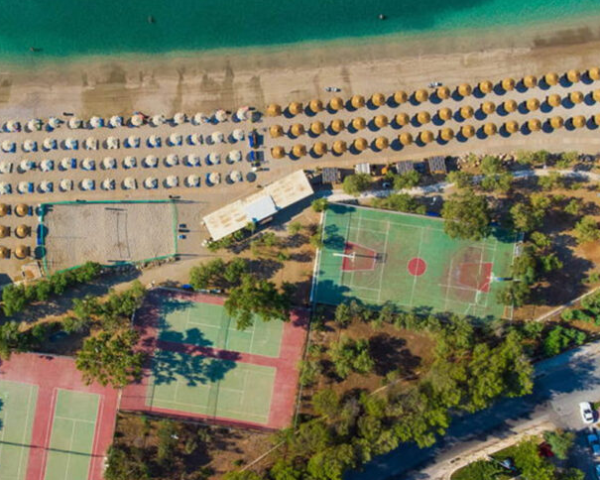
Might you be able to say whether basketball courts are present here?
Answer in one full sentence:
Yes, you can see a basketball court in this photo.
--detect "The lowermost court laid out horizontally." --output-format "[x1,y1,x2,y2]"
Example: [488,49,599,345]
[119,334,299,429]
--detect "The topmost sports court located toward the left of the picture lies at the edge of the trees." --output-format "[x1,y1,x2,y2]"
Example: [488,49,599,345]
[41,200,177,274]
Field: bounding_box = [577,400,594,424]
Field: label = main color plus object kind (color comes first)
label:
white car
